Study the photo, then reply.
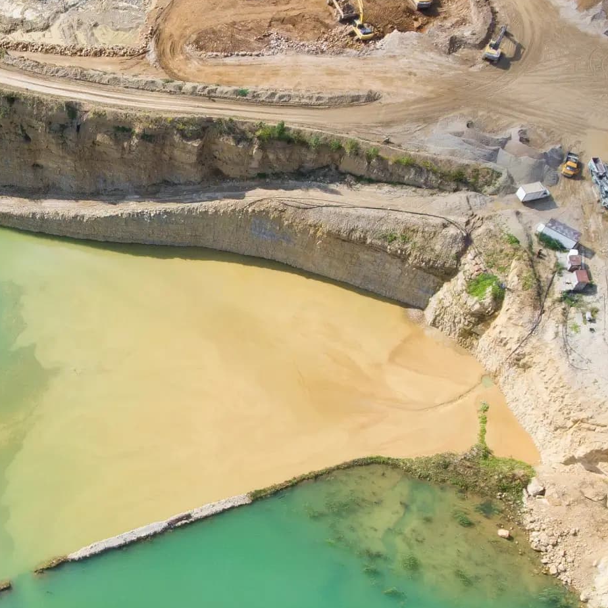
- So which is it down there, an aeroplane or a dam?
dam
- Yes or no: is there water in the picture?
Yes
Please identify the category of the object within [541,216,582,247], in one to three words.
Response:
shed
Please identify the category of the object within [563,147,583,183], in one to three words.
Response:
vehicle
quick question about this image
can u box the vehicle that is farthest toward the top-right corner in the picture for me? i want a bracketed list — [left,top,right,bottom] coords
[483,6,514,62]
